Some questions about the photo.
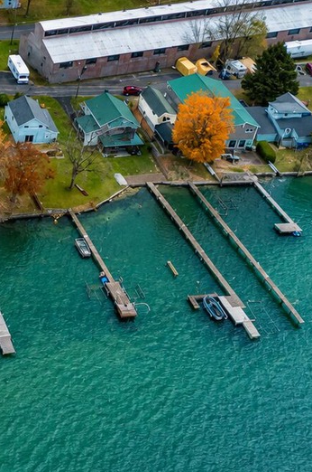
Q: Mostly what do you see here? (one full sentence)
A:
The largest share of the image is taken up by water.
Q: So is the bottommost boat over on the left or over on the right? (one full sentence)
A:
You can find the bottommost boat on the right side of the picture.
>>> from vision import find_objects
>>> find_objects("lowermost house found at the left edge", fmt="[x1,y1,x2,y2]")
[9,96,59,142]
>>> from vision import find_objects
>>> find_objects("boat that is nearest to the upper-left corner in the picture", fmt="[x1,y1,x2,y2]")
[113,172,126,186]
